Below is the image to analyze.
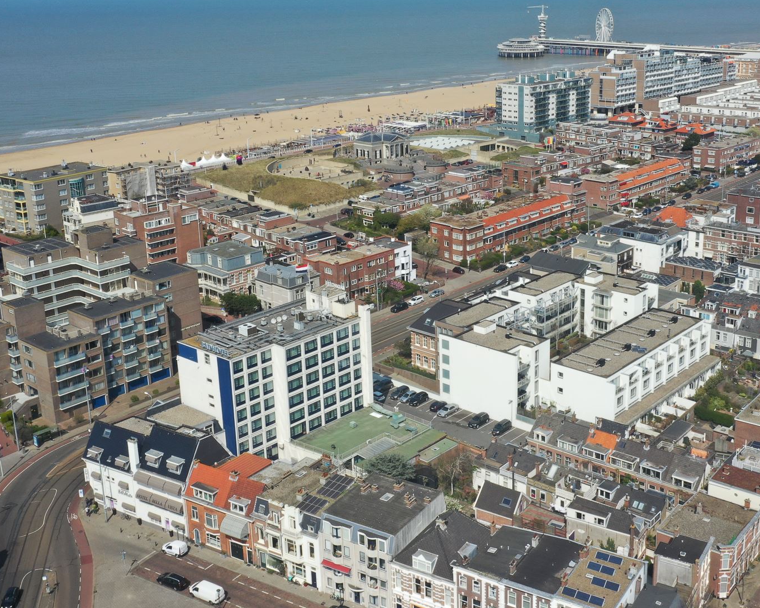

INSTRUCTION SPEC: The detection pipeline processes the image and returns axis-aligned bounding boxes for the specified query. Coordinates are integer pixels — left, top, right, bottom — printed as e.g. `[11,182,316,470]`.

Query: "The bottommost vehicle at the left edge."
[1,585,21,608]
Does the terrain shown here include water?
Yes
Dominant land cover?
buildings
